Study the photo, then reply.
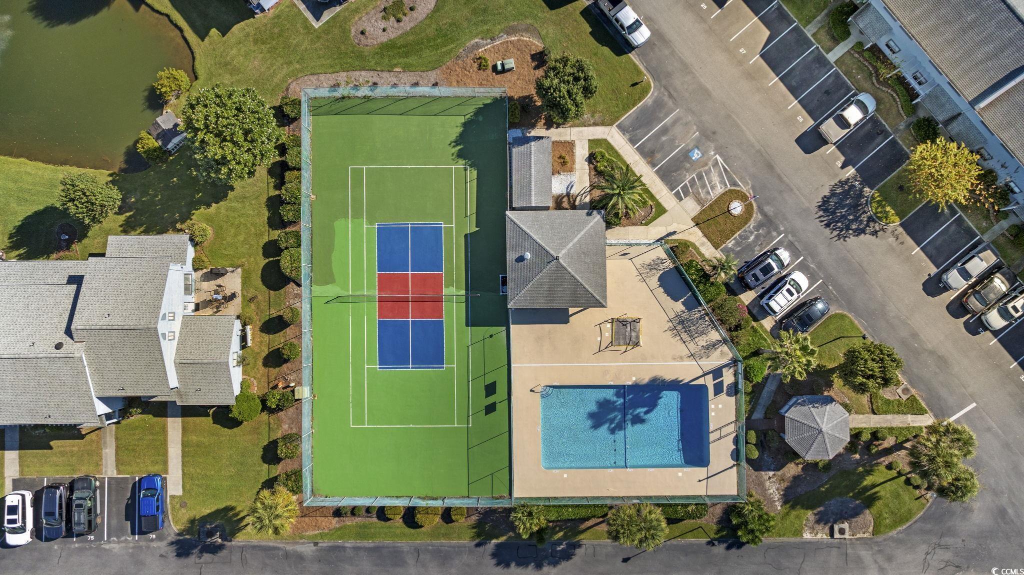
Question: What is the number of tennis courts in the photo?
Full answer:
Altogether the scene contains 1 tennis court.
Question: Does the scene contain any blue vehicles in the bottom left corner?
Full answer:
Yes, I can see a blue vehicle in the bottom left corner.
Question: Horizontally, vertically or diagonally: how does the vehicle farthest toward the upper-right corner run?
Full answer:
The vehicle farthest toward the upper-right corner is oriented diagonally.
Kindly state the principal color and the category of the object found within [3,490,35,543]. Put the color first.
white car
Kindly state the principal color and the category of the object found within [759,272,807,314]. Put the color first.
white car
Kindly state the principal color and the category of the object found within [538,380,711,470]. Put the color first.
blue swimming pool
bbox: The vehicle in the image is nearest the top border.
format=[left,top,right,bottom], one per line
[590,0,647,53]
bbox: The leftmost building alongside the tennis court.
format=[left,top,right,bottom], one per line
[0,235,242,425]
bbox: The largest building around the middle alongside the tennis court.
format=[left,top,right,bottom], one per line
[506,209,607,308]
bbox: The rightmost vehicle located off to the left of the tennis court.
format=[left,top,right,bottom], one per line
[138,472,168,531]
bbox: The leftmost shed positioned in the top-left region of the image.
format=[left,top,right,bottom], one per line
[148,110,199,163]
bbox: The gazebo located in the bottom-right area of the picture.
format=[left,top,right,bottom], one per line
[777,394,850,460]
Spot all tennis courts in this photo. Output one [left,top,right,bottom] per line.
[310,96,511,498]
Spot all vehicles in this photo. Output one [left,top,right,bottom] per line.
[780,294,830,336]
[937,242,997,292]
[590,0,647,53]
[960,269,1011,313]
[71,475,102,532]
[138,472,168,531]
[759,272,807,314]
[977,284,1024,330]
[737,247,787,290]
[815,94,875,147]
[42,481,72,536]
[3,490,35,543]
